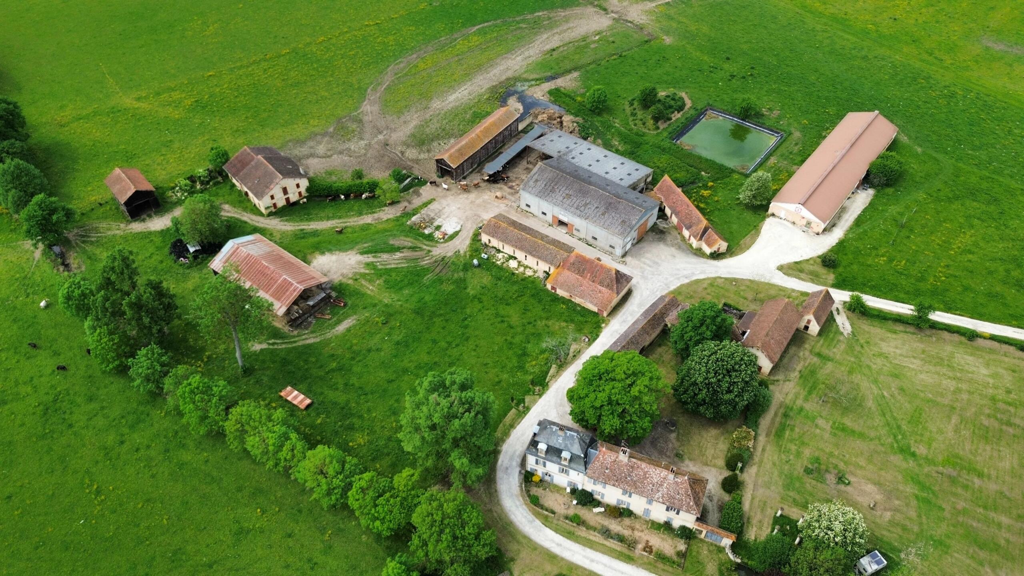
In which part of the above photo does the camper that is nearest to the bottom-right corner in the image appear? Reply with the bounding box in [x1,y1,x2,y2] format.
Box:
[854,550,888,576]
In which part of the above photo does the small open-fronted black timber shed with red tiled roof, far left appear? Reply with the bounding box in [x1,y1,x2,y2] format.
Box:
[105,167,161,219]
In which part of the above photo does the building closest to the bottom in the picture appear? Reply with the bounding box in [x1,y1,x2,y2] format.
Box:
[524,415,711,527]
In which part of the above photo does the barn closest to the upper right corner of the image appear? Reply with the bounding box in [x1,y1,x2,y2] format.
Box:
[770,110,898,233]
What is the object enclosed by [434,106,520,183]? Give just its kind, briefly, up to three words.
barn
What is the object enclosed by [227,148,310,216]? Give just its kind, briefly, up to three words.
house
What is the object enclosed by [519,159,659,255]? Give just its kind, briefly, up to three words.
barn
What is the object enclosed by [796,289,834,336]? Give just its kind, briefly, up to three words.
building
